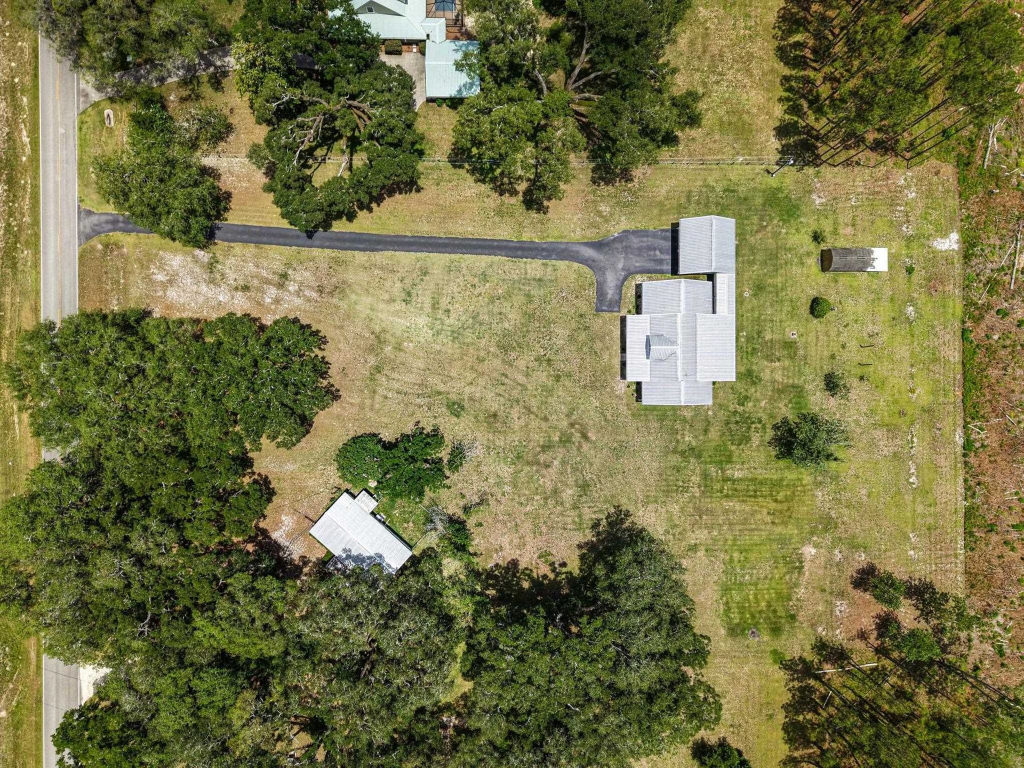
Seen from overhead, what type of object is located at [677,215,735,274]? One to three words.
building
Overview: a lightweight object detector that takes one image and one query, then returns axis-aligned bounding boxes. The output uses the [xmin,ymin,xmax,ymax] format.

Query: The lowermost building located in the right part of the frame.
[623,273,736,405]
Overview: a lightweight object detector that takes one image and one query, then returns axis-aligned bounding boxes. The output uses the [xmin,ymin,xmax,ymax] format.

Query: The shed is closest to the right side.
[821,248,890,274]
